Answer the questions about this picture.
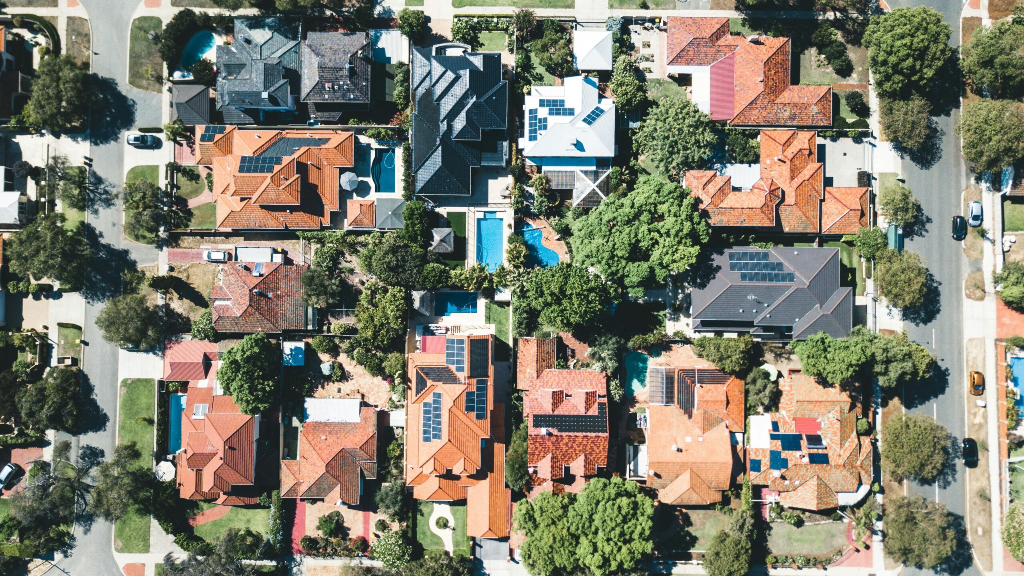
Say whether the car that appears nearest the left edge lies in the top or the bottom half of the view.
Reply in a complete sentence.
You can find the car that appears nearest the left edge in the bottom half.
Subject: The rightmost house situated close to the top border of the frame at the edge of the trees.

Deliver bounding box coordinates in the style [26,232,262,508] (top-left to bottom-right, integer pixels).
[664,17,833,128]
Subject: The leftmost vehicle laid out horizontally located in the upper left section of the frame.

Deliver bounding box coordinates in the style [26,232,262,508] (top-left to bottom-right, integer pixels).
[127,133,158,147]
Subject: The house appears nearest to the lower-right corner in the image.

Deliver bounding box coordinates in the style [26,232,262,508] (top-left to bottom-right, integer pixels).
[747,374,873,510]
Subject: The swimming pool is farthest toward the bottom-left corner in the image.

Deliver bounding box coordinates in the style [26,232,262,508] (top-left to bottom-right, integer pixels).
[168,393,186,455]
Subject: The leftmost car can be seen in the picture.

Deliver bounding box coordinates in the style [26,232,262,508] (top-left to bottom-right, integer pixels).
[0,461,20,490]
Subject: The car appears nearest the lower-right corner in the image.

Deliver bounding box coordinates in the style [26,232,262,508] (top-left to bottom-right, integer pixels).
[960,438,978,467]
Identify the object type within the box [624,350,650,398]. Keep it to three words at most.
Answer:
swimming pool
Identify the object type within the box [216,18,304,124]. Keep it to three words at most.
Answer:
house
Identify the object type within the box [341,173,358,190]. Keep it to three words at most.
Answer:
umbrella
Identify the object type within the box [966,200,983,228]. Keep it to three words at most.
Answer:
car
